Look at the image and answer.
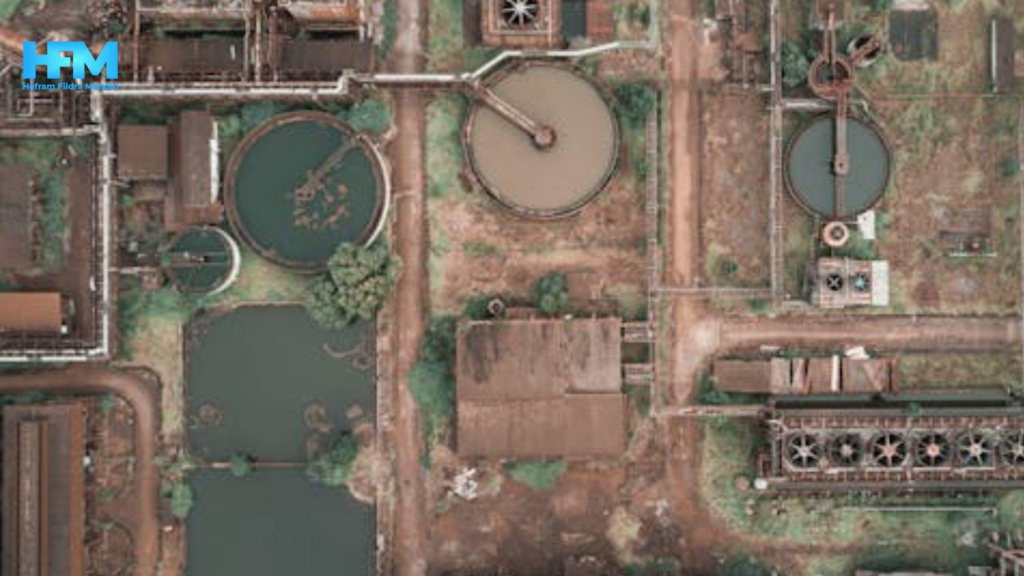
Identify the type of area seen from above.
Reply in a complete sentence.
It's an industrial area.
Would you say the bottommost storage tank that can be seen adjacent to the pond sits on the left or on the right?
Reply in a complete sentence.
You can find the bottommost storage tank that can be seen adjacent to the pond on the left side of the picture.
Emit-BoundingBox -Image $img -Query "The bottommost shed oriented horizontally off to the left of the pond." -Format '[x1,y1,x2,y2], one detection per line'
[0,293,68,326]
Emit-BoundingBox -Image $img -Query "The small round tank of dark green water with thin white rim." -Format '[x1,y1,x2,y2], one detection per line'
[169,226,244,294]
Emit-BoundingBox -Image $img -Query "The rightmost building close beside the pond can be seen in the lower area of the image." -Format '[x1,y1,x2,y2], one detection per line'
[456,319,627,455]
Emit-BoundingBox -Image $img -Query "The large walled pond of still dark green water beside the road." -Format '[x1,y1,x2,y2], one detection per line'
[182,304,378,576]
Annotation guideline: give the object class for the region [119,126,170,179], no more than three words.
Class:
shed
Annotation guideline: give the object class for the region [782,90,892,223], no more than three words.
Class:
storage tank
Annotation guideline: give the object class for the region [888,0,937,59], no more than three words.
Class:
shed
